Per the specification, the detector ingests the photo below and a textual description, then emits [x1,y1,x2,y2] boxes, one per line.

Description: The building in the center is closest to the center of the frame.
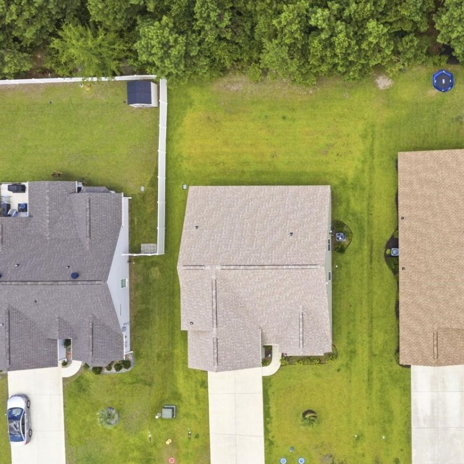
[178,187,333,373]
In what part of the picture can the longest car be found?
bottom left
